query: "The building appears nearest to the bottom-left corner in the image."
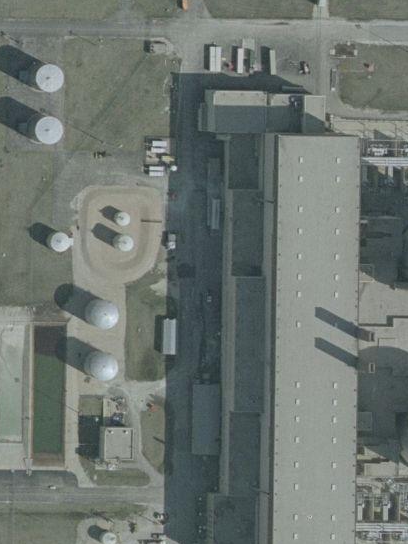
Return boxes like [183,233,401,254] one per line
[99,428,134,460]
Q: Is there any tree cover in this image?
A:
No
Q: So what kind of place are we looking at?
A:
industrial area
